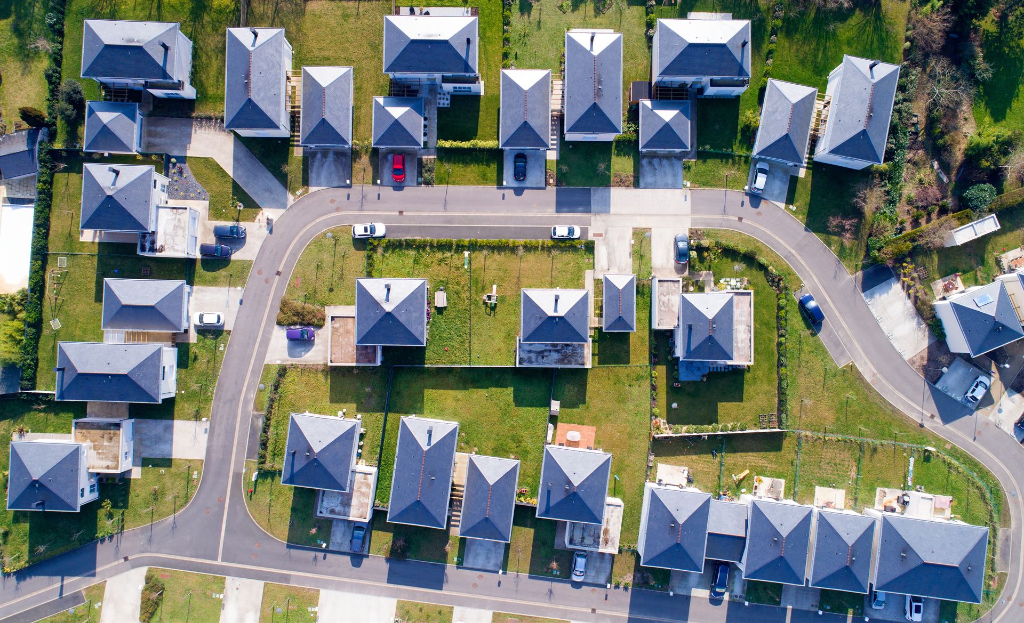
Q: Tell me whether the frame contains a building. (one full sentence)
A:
Yes, there is a building in the image.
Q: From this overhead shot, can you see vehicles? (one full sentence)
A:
Yes, looking at the shot, I can spot a vehicle.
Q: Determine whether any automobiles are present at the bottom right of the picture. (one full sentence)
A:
Yes, an automobile is visible at the bottom right of the picture.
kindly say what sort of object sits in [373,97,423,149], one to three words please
building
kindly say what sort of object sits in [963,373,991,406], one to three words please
car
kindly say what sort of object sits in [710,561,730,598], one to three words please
vehicle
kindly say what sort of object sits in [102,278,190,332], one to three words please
house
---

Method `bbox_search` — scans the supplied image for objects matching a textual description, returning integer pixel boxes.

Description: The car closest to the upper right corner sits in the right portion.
[750,161,770,194]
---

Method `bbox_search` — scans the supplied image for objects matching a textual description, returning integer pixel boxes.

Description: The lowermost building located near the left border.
[8,417,133,512]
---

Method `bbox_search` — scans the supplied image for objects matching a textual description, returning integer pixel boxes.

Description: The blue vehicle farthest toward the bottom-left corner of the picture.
[350,522,368,554]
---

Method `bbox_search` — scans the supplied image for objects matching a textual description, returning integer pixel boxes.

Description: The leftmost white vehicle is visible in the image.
[193,311,224,327]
